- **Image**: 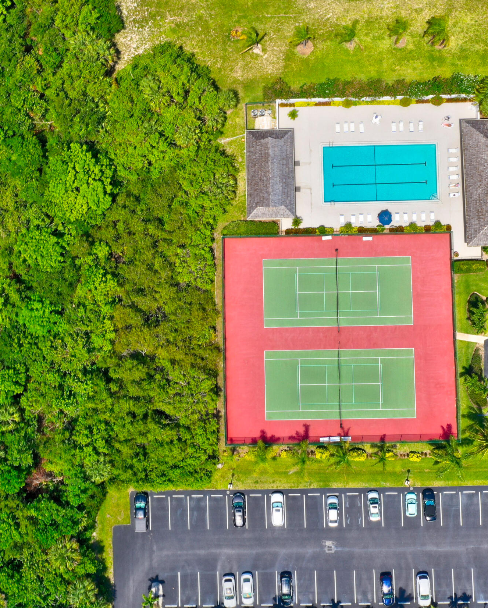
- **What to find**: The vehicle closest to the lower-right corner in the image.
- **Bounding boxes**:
[416,571,431,606]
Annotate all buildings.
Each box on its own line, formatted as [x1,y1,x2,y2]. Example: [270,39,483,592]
[461,119,488,246]
[245,128,295,220]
